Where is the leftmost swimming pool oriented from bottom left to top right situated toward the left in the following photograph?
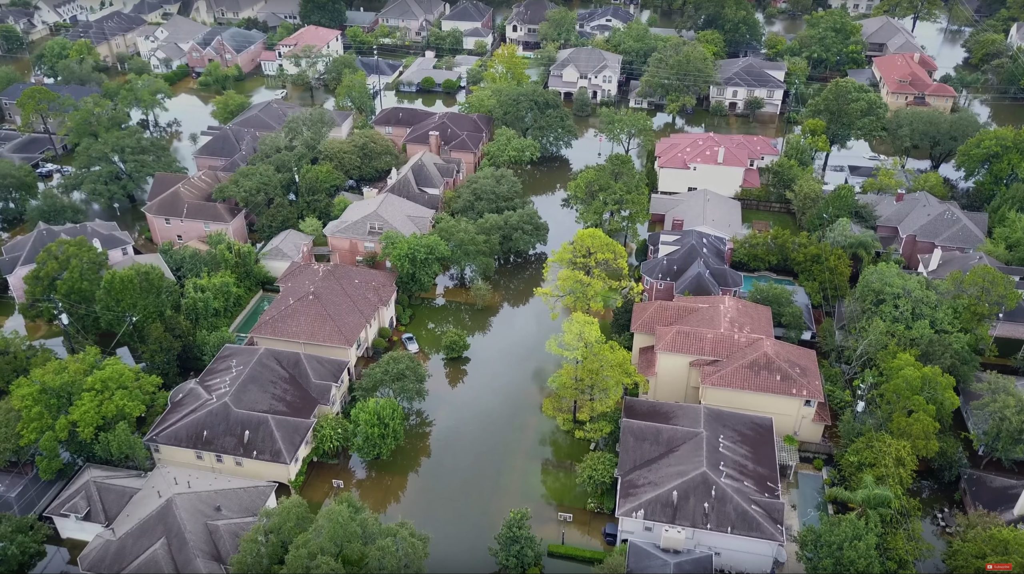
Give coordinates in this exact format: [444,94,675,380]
[231,292,276,343]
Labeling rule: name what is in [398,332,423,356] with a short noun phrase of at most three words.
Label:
car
